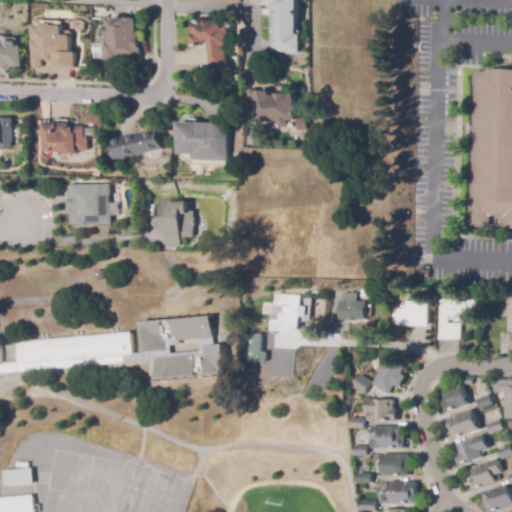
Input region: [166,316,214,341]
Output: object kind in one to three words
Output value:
building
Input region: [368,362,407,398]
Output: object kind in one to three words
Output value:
house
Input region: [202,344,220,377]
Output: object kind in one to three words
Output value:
building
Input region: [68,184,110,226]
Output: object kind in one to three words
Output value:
house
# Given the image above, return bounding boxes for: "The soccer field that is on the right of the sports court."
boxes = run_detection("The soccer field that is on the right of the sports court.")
[238,486,330,512]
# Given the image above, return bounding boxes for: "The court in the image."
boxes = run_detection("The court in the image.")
[0,432,195,512]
